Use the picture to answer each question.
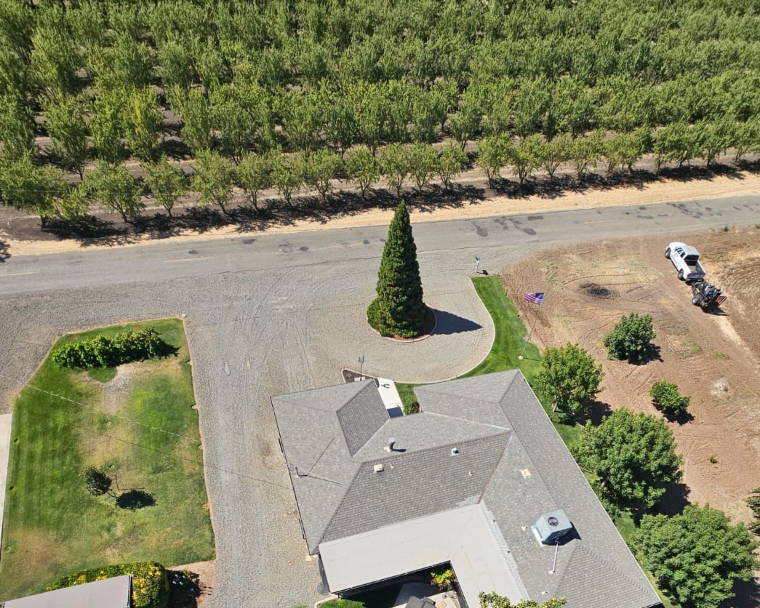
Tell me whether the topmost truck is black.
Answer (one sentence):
No, the color of the topmost truck is white.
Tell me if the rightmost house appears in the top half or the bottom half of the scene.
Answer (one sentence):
It is in the bottom half that the rightmost house appears.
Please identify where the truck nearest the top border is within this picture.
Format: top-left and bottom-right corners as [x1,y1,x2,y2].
[664,240,708,281]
